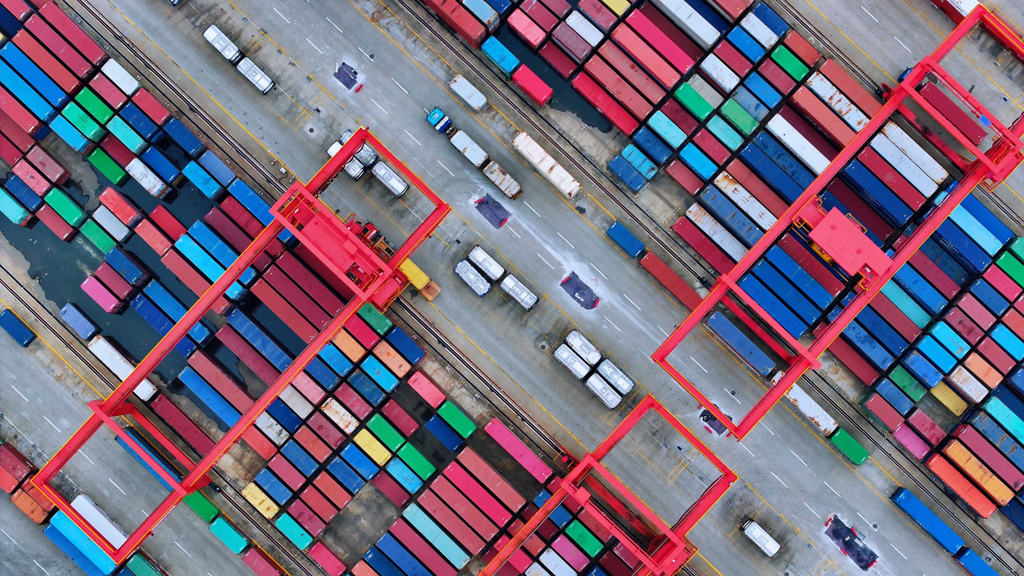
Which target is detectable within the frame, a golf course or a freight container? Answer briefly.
freight container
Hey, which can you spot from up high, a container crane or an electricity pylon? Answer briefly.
container crane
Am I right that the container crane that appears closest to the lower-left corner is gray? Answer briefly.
No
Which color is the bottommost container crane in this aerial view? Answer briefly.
red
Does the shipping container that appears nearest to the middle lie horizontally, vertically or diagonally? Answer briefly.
diagonally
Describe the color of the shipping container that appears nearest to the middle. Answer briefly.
white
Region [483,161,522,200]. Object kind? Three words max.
shipping container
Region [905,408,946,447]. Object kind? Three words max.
shipping container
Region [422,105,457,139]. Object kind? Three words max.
truck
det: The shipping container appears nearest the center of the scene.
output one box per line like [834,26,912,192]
[499,273,538,312]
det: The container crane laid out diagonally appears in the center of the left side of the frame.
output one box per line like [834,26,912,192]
[28,126,452,565]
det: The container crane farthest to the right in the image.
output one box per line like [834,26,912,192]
[649,2,1024,442]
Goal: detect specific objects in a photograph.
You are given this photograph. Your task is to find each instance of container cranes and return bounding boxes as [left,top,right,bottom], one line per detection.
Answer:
[649,2,1024,442]
[28,126,452,565]
[478,393,739,576]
